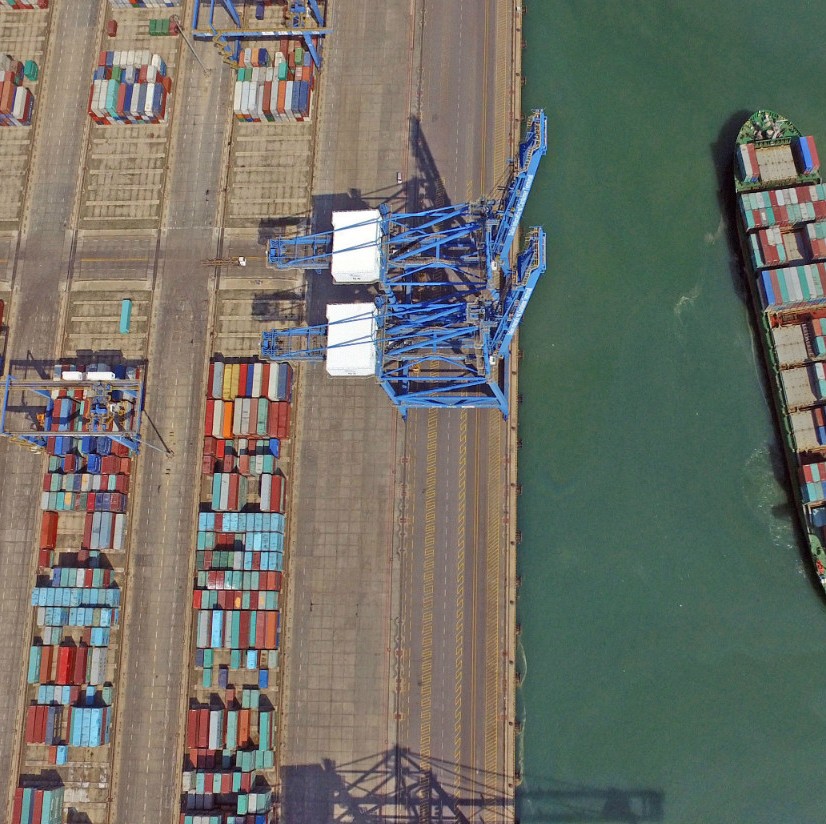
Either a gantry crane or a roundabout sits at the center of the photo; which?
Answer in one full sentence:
Visible at the center of the photo is a gantry crane.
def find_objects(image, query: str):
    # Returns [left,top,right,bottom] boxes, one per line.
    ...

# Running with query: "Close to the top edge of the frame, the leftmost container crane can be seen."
[190,0,332,69]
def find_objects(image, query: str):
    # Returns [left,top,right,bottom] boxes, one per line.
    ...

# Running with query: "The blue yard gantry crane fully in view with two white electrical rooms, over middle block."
[0,364,146,454]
